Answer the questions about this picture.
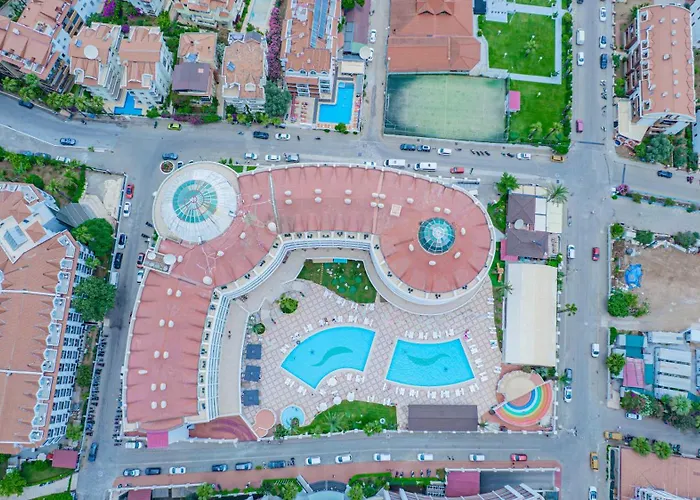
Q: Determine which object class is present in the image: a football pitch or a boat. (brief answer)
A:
football pitch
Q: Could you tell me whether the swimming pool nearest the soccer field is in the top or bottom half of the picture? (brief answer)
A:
top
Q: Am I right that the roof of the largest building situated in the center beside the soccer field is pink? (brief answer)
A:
Yes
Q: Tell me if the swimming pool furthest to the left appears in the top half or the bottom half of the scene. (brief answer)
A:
top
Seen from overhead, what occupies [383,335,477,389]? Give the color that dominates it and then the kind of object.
blue swimming pool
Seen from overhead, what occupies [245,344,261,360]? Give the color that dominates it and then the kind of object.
blue umbrella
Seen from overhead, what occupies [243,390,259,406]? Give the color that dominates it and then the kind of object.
blue umbrella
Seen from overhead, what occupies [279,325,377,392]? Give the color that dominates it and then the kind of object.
blue swimming pool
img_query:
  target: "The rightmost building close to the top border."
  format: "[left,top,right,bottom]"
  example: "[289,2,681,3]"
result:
[623,2,696,133]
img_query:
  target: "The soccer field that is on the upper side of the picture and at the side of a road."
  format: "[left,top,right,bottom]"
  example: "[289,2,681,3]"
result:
[385,70,510,140]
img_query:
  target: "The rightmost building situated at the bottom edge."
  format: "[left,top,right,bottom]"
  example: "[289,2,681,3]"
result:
[615,446,700,500]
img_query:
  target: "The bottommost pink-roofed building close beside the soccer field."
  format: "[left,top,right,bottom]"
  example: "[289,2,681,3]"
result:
[119,156,496,438]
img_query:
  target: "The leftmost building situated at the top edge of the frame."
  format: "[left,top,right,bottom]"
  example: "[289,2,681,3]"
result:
[0,0,87,100]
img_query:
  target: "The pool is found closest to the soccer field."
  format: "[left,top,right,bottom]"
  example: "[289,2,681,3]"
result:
[317,81,355,124]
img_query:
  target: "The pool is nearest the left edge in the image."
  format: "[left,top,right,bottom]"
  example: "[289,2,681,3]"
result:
[112,89,142,116]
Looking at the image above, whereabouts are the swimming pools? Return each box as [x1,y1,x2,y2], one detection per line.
[278,403,308,432]
[279,325,377,392]
[383,335,477,389]
[317,81,355,124]
[112,89,142,116]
